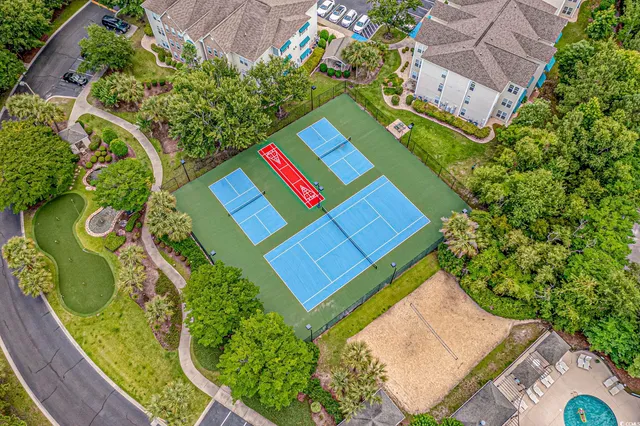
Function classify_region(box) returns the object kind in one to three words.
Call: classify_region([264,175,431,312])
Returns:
tennis court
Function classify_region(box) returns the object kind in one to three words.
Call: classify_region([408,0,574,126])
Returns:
building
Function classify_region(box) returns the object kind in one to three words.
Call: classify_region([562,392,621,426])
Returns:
swimming pool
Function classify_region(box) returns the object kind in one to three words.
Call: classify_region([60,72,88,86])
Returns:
vehicle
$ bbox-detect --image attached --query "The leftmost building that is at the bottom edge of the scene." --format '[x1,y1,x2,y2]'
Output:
[342,386,404,426]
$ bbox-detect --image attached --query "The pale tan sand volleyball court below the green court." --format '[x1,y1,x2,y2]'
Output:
[345,269,544,414]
